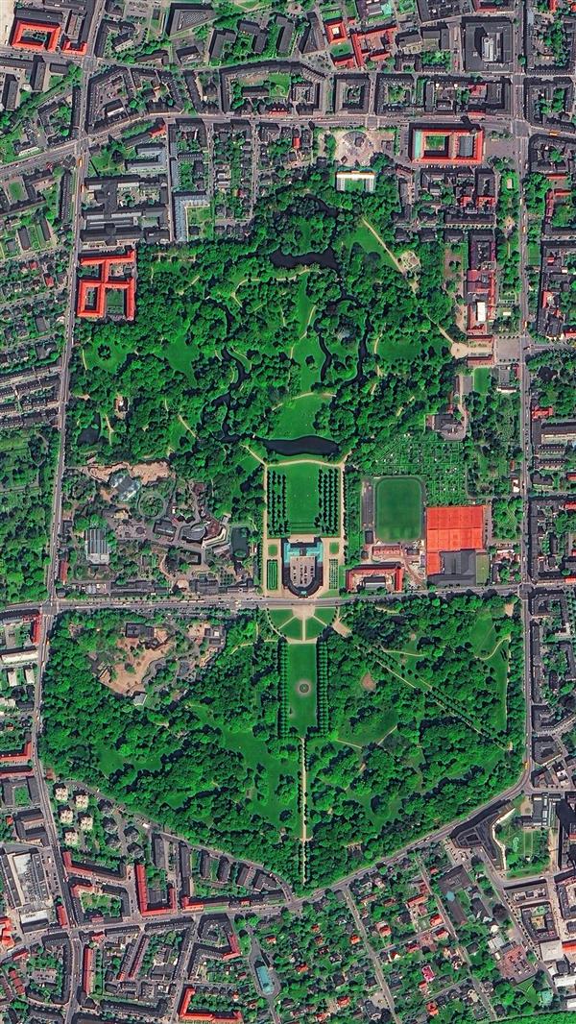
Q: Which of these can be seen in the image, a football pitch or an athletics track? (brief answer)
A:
football pitch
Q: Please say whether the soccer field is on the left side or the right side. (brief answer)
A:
right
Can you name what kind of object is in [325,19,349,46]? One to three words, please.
building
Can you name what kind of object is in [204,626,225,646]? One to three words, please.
house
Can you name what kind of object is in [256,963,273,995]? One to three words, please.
building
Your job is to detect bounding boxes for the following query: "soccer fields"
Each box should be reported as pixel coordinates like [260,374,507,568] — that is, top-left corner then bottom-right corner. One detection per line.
[373,476,425,546]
